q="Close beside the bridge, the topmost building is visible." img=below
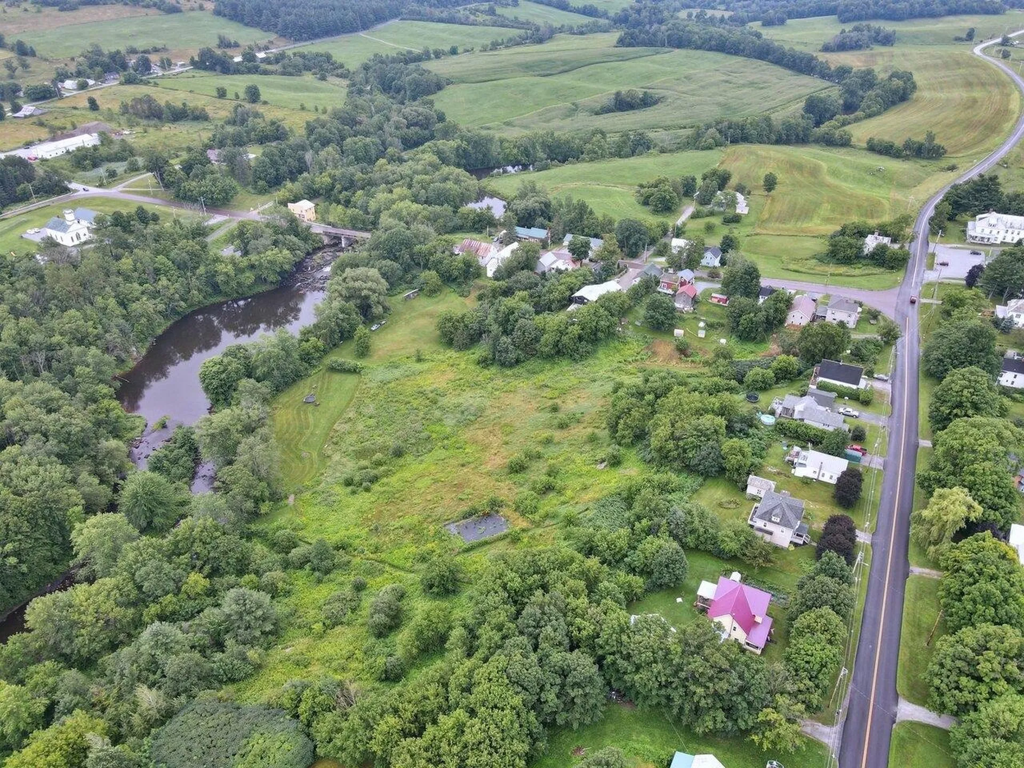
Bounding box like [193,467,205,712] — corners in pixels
[292,198,320,221]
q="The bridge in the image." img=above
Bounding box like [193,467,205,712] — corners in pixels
[309,221,395,244]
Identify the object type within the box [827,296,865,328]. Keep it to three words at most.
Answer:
house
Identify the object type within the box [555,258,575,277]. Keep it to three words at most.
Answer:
house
